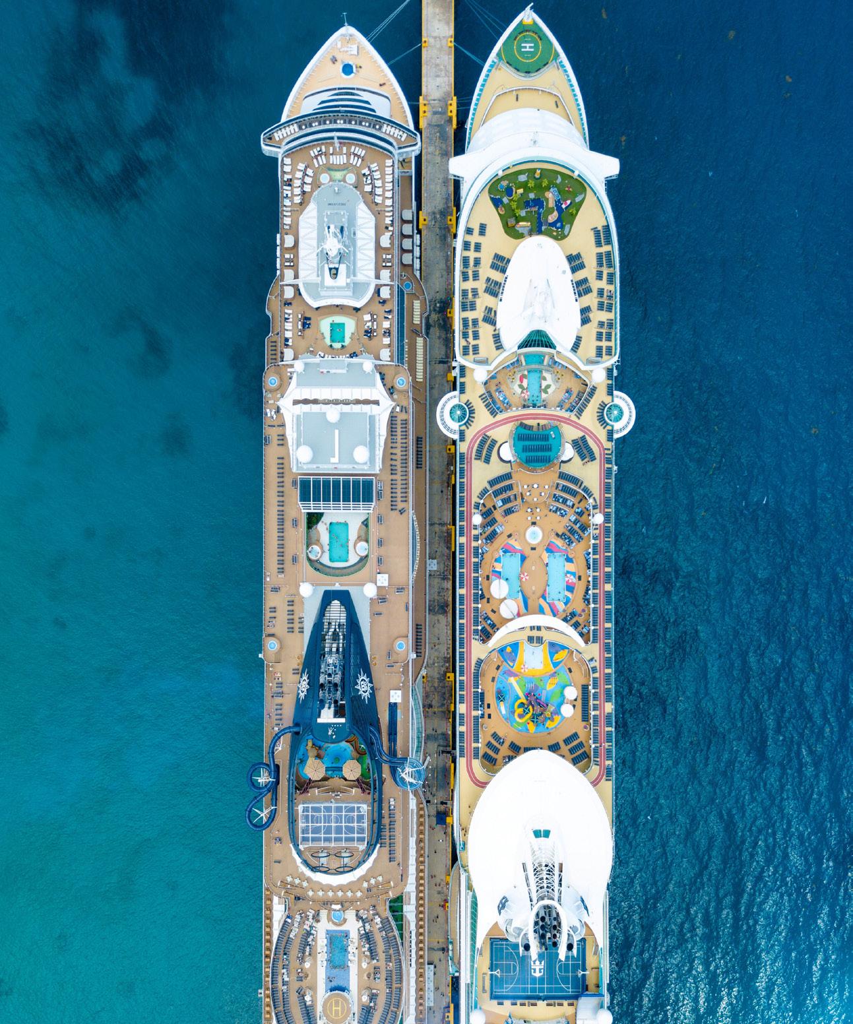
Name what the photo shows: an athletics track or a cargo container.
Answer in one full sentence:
There is an athletics track in the scene.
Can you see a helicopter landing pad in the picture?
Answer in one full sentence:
Yes, a helicopter landing pad is visible in the scene.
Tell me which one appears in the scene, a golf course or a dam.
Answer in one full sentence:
I can see a golf course in this picture.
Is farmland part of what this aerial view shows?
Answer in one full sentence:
No, no farmland is visible.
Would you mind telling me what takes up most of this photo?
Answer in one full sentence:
The scene is dominated by water.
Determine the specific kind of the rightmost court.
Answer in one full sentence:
Specifically, the rightmost court is a basketball court.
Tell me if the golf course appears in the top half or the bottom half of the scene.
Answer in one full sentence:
Seen from above, the golf course lies in the top half of the view.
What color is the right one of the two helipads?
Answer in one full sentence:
From above, the right one of the two helipads appears green.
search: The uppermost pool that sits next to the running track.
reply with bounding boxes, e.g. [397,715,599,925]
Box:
[508,359,560,404]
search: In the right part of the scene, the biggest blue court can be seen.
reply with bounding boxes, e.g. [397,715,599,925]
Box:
[488,933,590,1000]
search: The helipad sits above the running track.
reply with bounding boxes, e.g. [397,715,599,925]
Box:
[495,19,560,75]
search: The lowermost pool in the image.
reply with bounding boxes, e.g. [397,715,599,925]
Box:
[325,929,350,993]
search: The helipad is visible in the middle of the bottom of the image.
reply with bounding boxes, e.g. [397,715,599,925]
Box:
[321,986,353,1023]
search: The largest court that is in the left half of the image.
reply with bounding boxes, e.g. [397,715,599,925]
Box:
[297,796,370,848]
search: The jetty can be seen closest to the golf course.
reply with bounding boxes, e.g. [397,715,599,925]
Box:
[421,0,454,1024]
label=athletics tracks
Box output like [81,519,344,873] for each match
[465,413,606,787]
